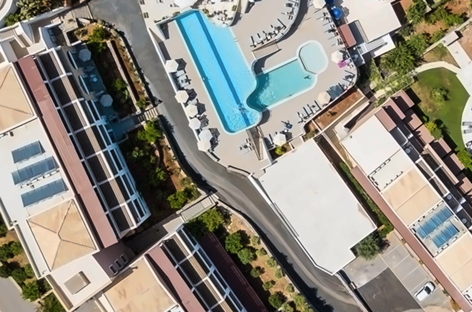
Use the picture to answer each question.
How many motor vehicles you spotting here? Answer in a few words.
1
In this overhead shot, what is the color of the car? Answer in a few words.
white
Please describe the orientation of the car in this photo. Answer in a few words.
on a diagonal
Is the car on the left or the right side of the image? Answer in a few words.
right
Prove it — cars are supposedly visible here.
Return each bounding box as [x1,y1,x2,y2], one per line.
[415,281,435,304]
